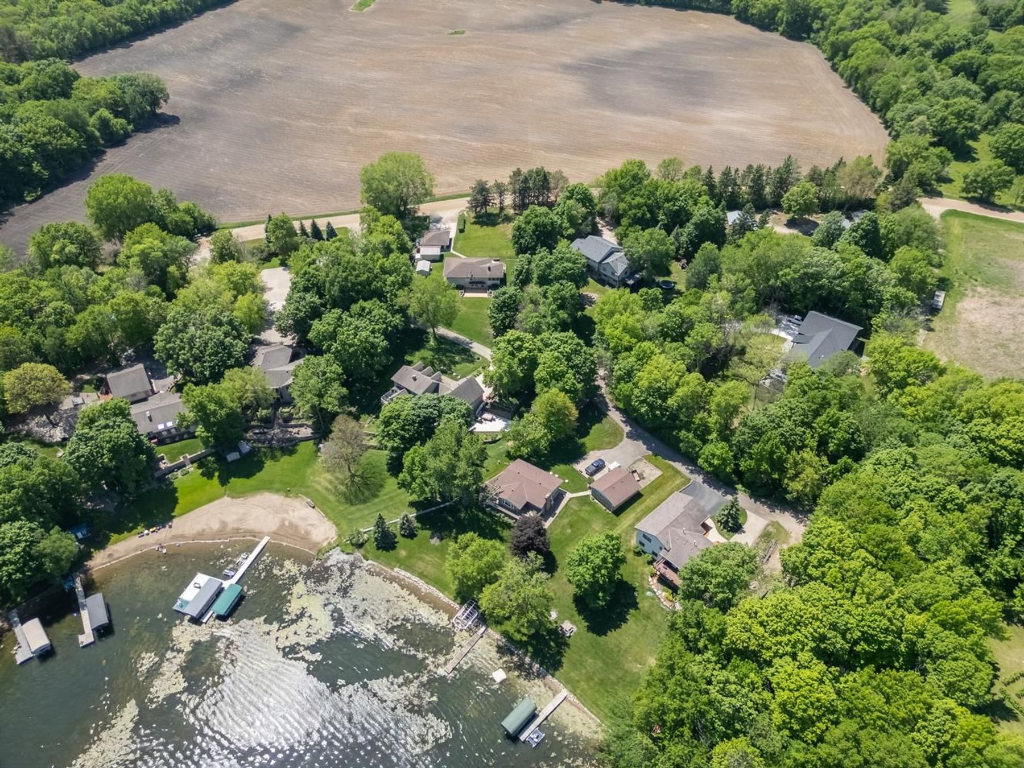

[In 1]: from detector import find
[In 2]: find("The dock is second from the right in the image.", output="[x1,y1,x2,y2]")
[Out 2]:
[443,626,486,676]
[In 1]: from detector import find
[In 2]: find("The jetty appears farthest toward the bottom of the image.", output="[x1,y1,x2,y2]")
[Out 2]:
[518,689,569,743]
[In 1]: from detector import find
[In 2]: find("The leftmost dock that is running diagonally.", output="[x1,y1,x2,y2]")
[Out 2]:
[199,537,271,623]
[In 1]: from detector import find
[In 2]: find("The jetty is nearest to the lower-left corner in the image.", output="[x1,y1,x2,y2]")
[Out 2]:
[5,606,38,668]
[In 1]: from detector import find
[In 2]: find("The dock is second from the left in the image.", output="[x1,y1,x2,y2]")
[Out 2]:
[73,574,96,650]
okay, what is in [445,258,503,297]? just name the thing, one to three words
house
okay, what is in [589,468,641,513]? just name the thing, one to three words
building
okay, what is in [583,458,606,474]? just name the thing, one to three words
vehicle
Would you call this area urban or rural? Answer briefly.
rural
